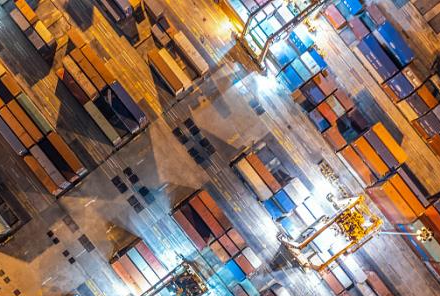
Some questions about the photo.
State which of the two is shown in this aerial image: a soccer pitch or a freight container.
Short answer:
freight container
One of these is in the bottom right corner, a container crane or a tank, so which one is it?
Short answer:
container crane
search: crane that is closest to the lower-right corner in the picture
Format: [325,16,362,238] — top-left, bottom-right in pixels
[277,193,383,275]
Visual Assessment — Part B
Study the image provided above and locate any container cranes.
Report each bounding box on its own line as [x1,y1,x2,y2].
[122,252,213,296]
[230,0,325,70]
[277,193,383,275]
